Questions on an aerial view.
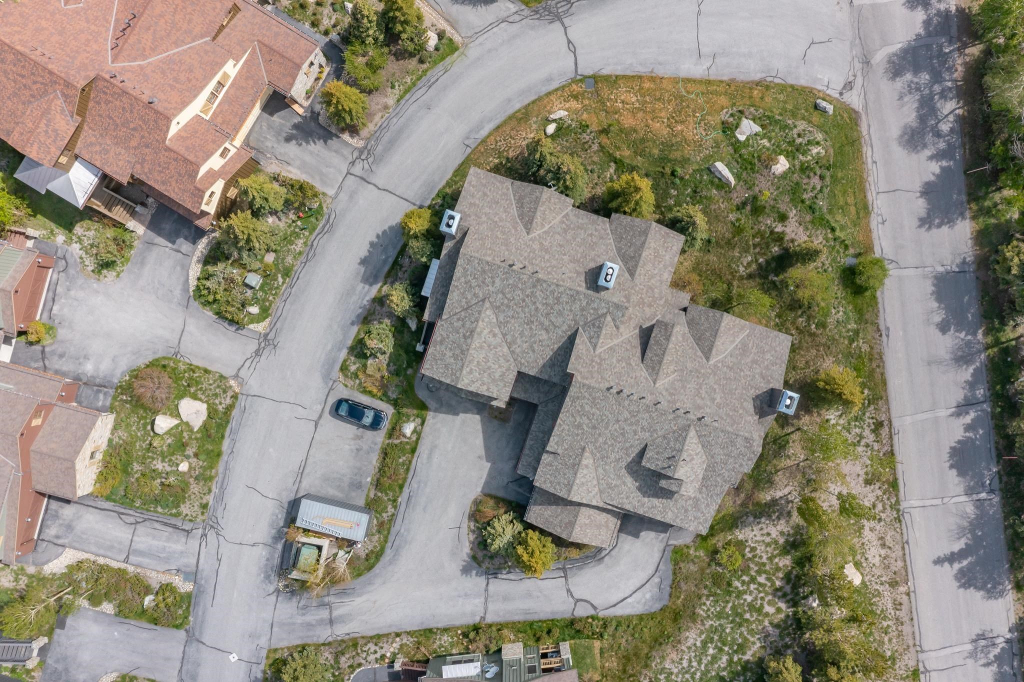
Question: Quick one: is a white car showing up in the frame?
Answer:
No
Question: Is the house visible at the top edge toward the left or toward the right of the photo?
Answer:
left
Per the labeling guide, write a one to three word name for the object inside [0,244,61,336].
house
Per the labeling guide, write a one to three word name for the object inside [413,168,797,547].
house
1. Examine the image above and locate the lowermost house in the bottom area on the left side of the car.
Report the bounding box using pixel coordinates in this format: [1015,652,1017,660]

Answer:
[0,360,119,565]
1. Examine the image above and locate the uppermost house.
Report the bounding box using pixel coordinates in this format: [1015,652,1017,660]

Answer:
[0,0,331,234]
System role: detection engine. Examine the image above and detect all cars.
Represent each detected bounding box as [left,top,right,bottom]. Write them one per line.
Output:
[333,399,389,433]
